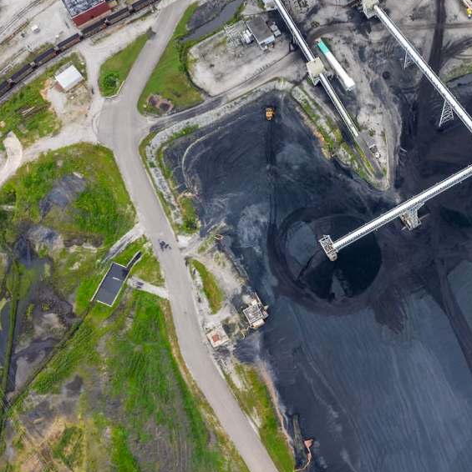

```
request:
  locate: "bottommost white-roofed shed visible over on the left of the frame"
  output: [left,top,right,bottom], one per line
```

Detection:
[55,65,86,94]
